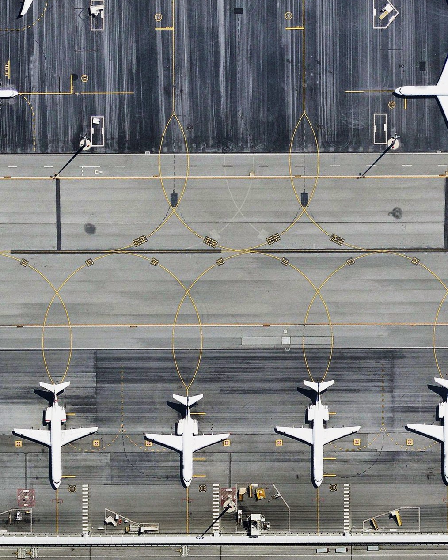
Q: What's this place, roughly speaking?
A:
airport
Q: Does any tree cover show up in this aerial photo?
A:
No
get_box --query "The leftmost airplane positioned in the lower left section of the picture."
[13,381,98,489]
